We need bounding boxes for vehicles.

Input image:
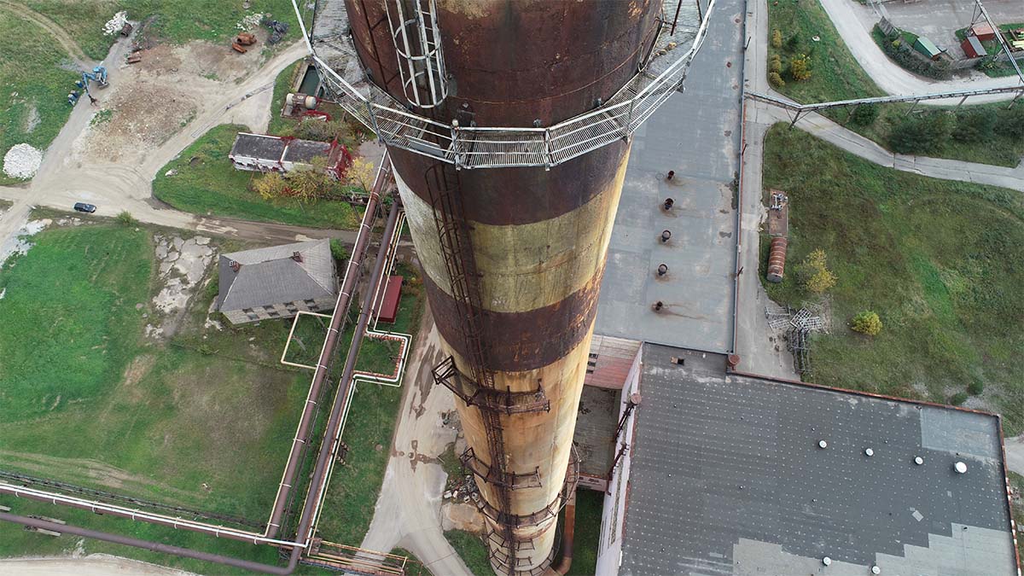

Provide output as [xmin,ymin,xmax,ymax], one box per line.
[72,200,98,215]
[81,65,111,107]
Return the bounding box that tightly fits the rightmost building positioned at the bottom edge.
[598,355,1022,576]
